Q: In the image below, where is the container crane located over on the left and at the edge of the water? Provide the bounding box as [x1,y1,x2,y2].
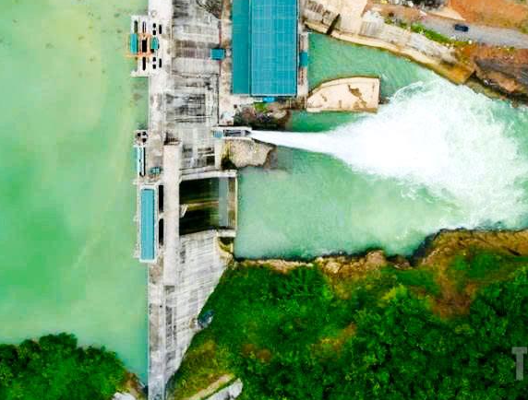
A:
[124,32,159,56]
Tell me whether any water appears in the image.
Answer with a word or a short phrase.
Yes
